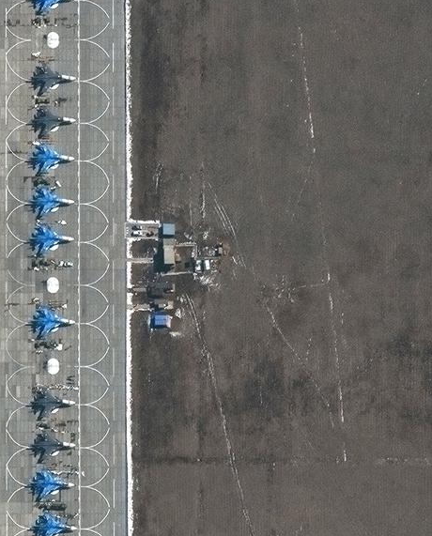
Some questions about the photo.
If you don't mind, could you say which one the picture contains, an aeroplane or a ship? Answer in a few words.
aeroplane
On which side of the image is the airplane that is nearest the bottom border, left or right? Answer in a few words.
left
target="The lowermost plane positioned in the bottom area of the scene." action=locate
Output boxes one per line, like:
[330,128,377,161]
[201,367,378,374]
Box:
[32,514,77,536]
